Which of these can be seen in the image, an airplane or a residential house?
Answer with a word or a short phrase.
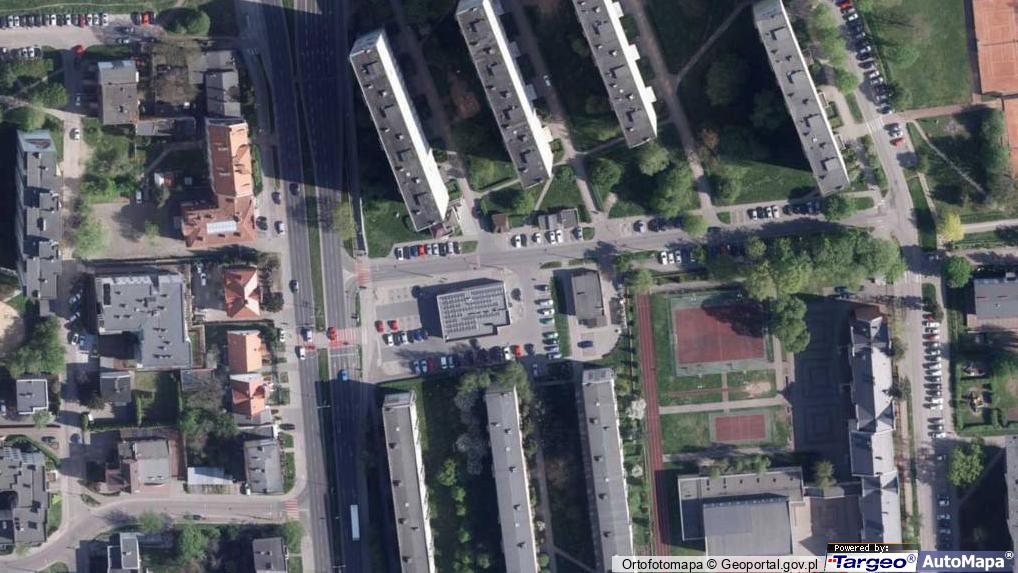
residential house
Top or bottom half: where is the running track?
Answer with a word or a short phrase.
bottom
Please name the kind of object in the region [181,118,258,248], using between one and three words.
house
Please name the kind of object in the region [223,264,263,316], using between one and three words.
house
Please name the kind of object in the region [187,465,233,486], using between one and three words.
shed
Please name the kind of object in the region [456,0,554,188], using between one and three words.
building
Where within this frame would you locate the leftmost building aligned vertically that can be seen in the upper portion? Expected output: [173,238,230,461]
[19,139,71,316]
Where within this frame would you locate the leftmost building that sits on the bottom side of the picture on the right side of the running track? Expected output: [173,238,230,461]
[680,464,803,573]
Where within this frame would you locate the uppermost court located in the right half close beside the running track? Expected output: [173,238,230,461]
[670,290,773,376]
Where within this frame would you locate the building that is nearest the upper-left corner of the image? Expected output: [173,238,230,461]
[97,60,140,125]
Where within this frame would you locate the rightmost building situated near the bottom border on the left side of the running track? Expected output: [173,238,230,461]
[582,368,638,573]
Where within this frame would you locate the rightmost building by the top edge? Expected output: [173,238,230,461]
[754,0,848,196]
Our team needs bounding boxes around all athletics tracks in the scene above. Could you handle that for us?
[636,293,670,573]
